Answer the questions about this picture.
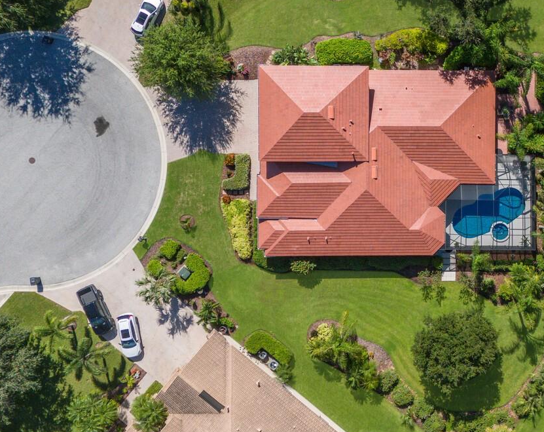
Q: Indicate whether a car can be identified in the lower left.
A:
Yes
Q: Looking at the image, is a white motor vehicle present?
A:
Yes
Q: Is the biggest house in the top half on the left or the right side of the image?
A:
right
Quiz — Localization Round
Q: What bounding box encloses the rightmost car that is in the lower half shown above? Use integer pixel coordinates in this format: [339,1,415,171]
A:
[118,311,145,358]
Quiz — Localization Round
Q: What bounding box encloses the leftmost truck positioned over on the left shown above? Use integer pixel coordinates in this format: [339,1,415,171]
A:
[77,280,119,338]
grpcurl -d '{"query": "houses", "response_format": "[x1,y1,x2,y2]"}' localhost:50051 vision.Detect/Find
[256,66,496,257]
[123,330,341,432]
